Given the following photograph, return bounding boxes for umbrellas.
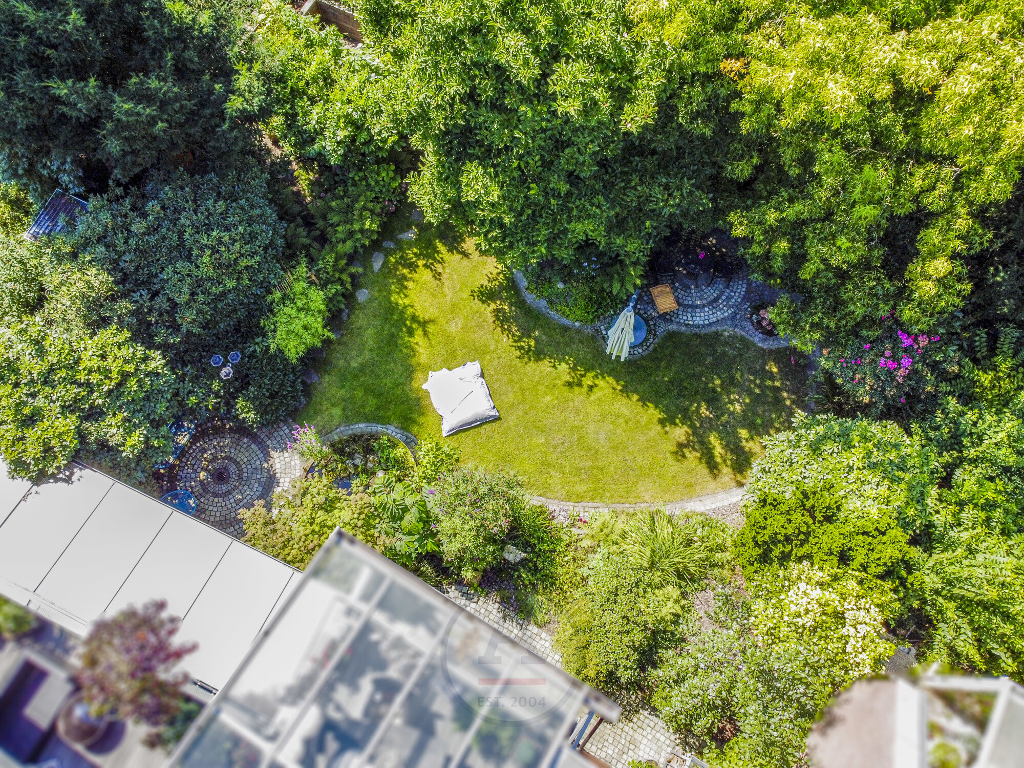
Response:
[606,288,647,361]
